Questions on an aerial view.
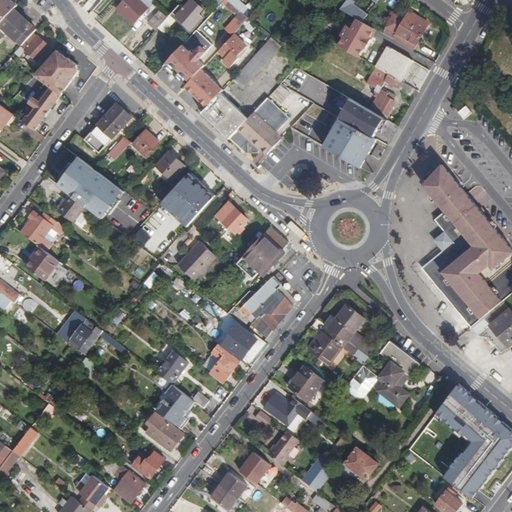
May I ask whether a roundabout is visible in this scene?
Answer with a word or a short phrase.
Yes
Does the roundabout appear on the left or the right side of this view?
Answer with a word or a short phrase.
right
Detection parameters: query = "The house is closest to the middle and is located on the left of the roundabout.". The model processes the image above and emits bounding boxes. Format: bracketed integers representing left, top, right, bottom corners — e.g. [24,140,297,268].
[240,225,288,278]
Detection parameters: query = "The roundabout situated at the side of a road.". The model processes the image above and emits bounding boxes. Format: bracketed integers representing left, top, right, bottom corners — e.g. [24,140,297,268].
[309,188,388,268]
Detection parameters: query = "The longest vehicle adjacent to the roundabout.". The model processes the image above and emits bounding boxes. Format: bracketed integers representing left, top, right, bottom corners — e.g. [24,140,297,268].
[292,221,312,240]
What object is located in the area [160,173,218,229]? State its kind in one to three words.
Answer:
building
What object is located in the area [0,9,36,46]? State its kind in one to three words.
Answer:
house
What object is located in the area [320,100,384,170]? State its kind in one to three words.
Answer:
building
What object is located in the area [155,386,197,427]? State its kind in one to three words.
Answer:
house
